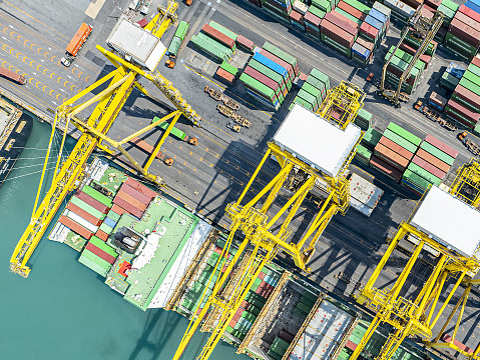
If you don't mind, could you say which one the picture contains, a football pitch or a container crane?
container crane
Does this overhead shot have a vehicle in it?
Yes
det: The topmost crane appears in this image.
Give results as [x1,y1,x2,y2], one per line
[374,0,443,103]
